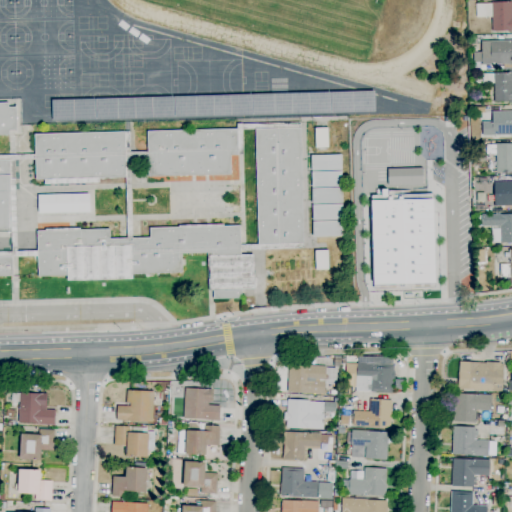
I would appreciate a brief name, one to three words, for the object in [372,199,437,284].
building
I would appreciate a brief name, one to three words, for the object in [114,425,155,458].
house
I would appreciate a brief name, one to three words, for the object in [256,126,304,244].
building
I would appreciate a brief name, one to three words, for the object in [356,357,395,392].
house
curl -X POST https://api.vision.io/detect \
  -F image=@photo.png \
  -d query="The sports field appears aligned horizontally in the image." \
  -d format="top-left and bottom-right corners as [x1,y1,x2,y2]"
[144,0,383,62]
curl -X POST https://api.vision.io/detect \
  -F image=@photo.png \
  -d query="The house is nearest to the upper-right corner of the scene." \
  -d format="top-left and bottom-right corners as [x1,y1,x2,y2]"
[477,1,512,30]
